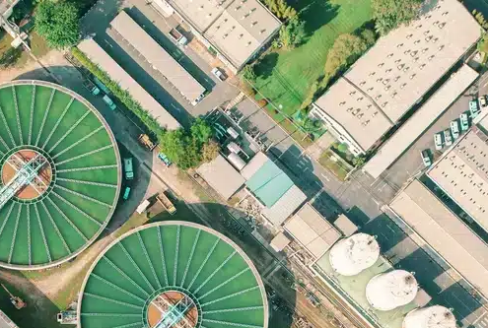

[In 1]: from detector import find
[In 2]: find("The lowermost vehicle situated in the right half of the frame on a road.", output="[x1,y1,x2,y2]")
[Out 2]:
[419,147,431,168]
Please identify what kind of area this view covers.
industrial area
